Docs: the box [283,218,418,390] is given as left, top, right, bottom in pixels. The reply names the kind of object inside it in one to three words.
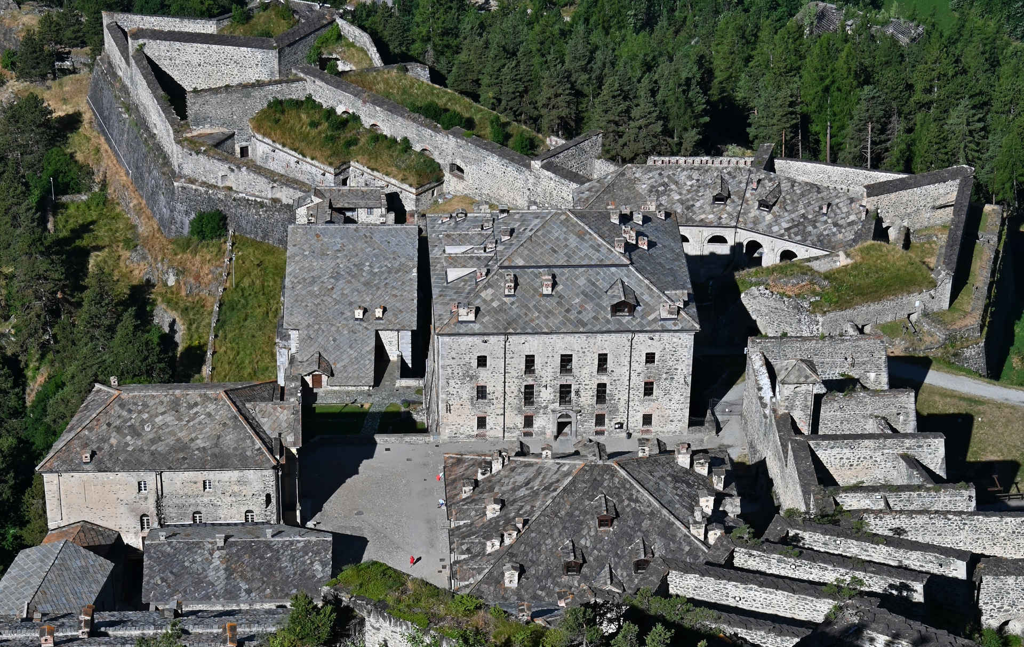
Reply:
building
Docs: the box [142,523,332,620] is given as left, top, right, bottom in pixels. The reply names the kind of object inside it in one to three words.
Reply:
shed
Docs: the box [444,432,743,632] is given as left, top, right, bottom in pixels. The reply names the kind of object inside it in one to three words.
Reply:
building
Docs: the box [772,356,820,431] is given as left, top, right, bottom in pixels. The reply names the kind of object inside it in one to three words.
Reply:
shed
